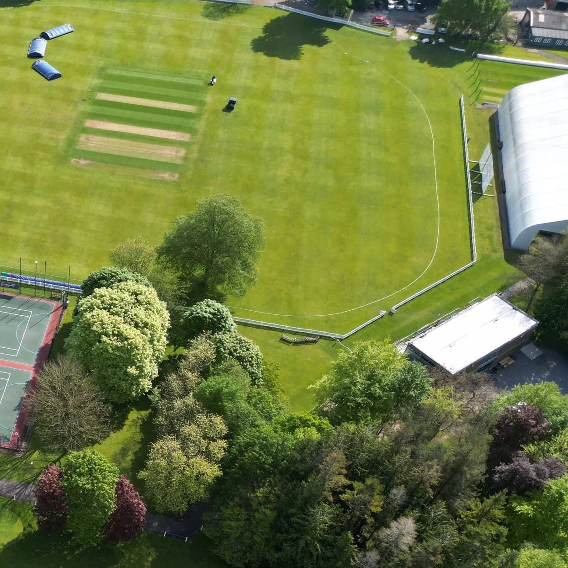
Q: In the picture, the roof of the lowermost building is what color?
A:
white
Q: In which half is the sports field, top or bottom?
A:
top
